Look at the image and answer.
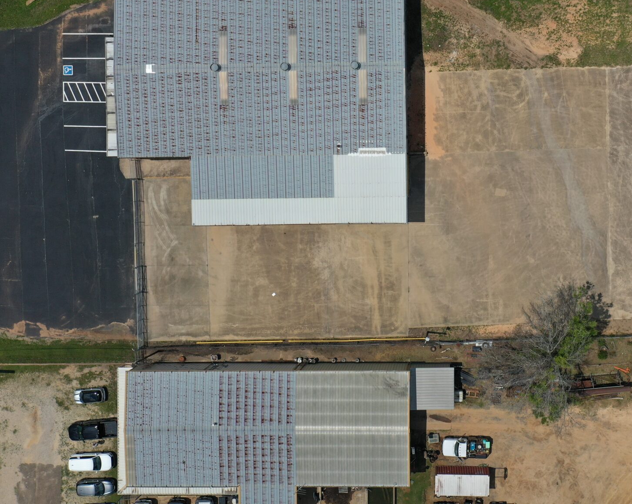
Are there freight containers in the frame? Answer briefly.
Yes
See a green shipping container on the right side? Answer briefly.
No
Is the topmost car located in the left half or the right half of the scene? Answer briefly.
left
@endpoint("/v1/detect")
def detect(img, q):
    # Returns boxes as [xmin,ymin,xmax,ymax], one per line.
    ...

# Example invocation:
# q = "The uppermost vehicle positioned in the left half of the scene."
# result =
[72,386,106,407]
